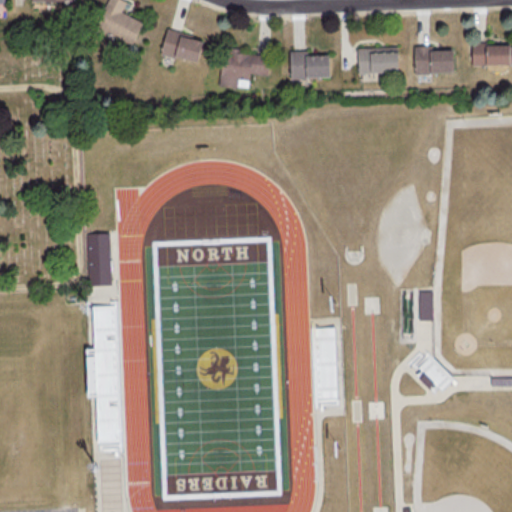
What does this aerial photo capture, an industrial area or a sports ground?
sports ground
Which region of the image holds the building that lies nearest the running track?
left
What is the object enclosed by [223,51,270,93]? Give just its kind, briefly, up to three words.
house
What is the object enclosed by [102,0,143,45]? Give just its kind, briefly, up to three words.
house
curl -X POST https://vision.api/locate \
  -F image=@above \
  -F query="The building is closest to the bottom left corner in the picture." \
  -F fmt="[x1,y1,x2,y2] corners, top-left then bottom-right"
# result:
[88,234,112,286]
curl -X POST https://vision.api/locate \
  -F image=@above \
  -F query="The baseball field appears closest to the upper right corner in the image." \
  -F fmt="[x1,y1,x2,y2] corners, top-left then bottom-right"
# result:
[434,116,512,376]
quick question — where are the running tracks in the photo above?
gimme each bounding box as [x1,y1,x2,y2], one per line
[117,159,318,512]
